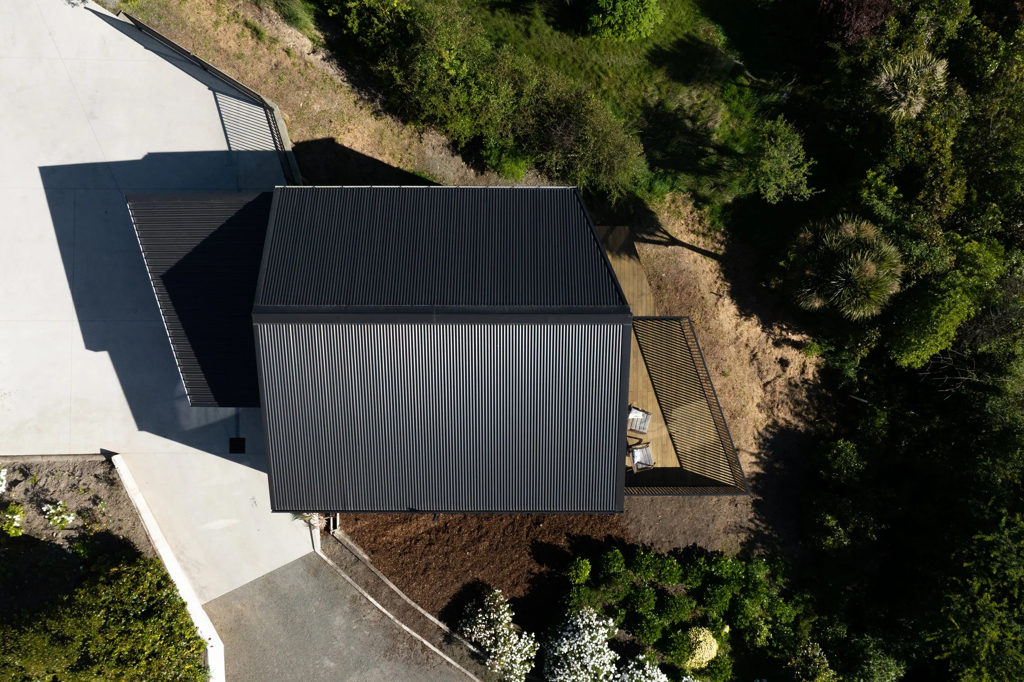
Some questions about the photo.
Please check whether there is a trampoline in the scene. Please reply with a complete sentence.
No, there appears to be no trampoline in this shot.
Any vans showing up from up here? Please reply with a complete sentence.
No, the photo shows no van.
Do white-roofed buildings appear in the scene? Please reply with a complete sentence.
No, there is no white-roofed building in the image.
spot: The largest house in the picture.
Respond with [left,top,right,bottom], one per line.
[252,185,633,514]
